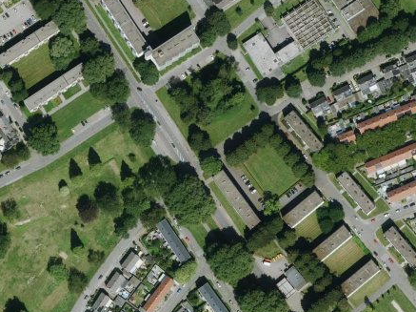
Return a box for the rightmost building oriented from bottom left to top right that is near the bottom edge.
[340,260,382,300]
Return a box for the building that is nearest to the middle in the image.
[212,170,259,232]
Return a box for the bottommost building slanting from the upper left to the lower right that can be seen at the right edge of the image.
[382,224,416,269]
